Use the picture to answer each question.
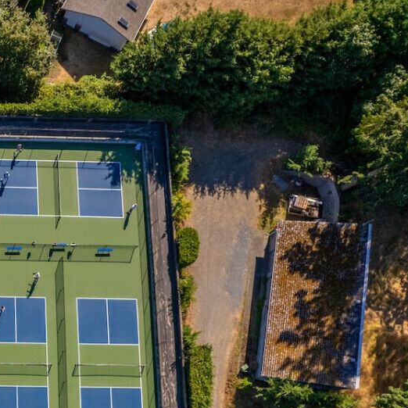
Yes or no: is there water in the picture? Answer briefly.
No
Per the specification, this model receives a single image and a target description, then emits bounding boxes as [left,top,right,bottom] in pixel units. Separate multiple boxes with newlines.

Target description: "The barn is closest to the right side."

[250,222,369,388]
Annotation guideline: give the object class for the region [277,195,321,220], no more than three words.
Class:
trailer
